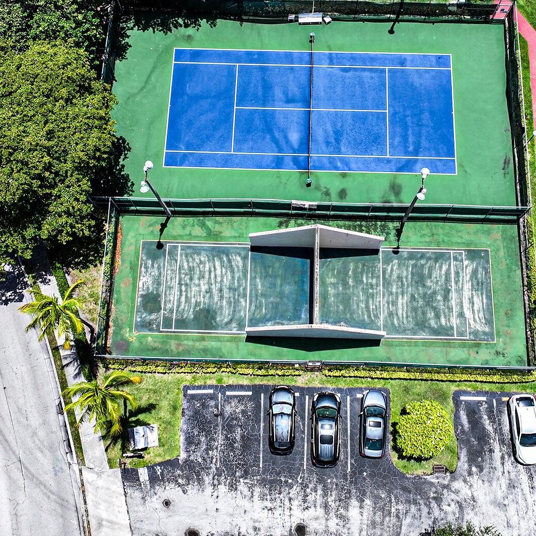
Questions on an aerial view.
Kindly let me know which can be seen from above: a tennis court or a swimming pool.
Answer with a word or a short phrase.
tennis court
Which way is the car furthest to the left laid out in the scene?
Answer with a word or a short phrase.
from top to bottom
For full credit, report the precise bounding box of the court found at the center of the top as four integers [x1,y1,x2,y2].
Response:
[101,12,517,217]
